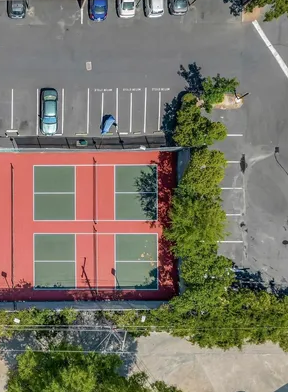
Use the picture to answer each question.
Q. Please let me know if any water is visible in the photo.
No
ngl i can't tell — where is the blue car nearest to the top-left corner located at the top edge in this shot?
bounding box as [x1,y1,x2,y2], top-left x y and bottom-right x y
[88,0,106,20]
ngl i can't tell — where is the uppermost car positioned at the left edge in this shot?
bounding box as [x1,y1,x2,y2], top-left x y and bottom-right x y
[9,0,25,18]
